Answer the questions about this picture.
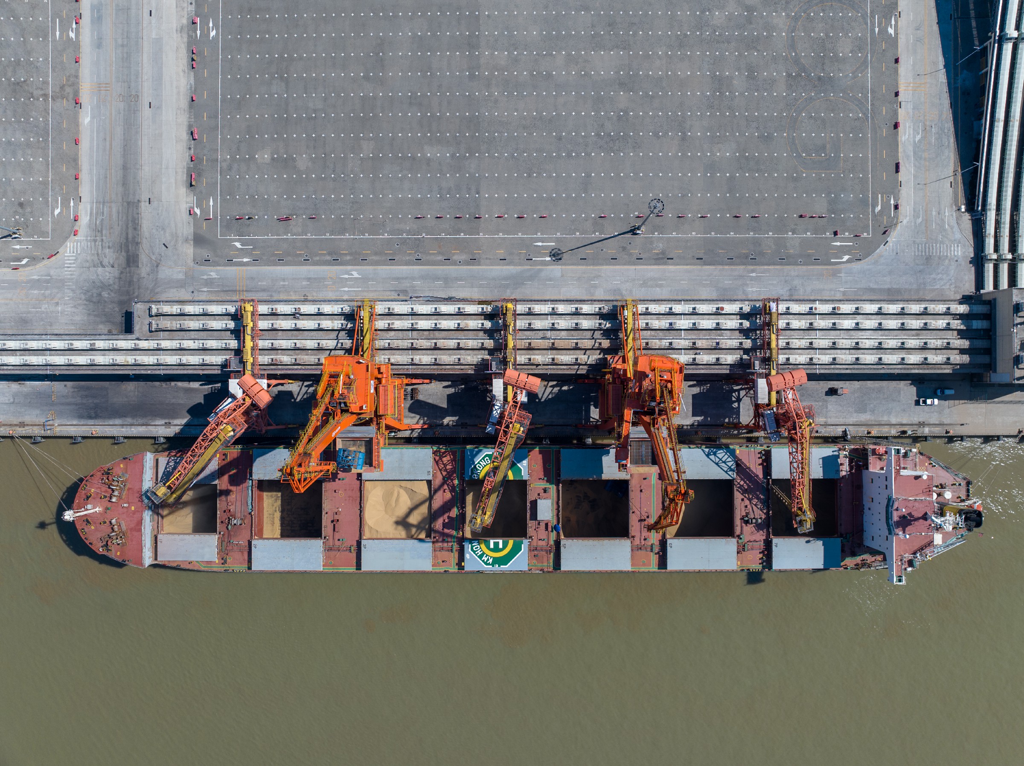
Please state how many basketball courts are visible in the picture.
zero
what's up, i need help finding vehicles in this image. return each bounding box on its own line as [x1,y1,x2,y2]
[938,388,959,396]
[920,399,940,406]
[828,387,852,395]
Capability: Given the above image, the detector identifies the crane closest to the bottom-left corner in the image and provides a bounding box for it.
[276,297,432,494]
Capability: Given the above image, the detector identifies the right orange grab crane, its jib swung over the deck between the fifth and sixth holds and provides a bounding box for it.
[572,297,695,537]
